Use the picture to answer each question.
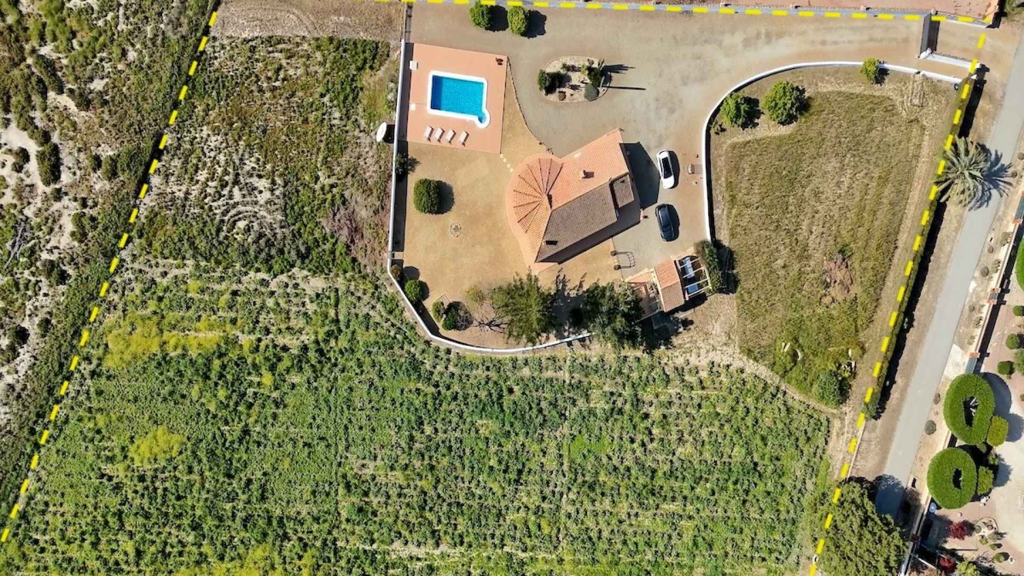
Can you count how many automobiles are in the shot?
2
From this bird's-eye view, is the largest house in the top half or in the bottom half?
top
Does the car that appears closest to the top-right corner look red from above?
No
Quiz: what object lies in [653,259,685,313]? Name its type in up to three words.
building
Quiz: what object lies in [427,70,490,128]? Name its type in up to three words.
swimming pool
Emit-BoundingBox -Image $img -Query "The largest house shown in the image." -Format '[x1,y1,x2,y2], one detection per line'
[513,127,635,263]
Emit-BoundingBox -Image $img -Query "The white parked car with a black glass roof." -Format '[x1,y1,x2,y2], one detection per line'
[655,150,677,190]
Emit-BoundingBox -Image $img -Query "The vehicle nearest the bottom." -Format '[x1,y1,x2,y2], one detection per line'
[654,203,676,243]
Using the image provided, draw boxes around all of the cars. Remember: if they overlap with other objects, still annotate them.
[654,203,676,243]
[655,150,677,190]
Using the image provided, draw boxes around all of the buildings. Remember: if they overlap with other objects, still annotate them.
[653,259,685,313]
[513,127,635,263]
